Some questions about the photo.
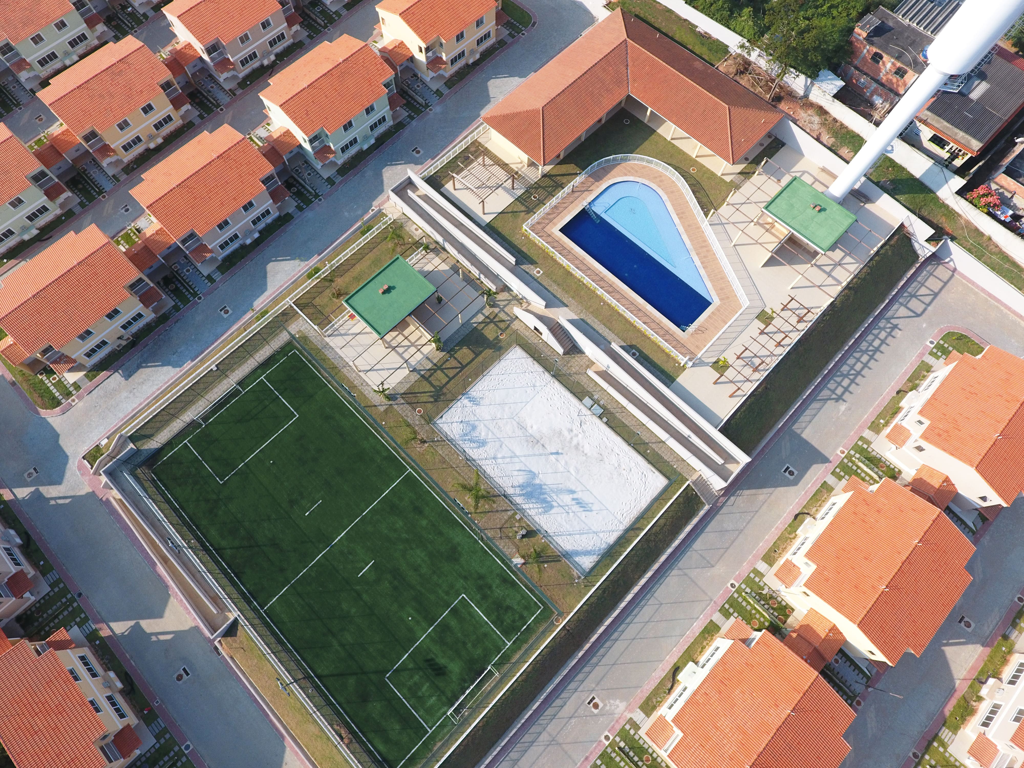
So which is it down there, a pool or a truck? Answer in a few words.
pool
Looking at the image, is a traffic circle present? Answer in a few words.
No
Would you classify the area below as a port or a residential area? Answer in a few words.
residential area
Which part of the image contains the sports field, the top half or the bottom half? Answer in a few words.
bottom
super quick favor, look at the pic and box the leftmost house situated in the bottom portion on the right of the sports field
[633,608,860,768]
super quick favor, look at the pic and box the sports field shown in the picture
[135,340,557,768]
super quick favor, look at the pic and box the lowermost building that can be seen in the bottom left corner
[0,621,165,768]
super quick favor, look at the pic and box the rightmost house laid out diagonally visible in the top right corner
[902,45,1024,172]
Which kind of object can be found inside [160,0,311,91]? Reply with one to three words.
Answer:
house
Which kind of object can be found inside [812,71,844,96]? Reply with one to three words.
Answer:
shed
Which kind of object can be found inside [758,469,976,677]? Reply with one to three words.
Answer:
house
